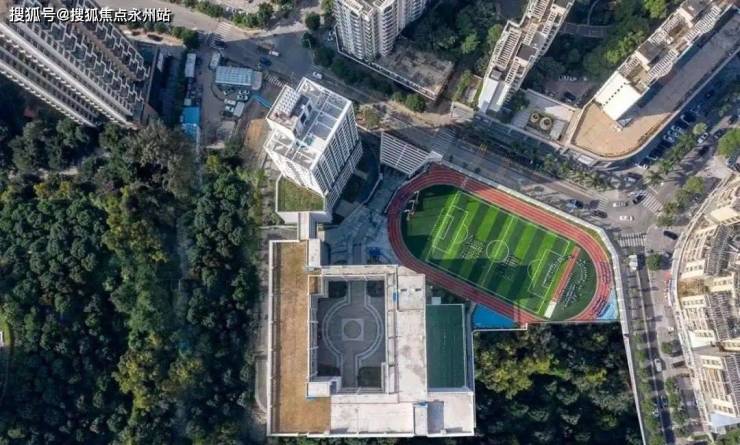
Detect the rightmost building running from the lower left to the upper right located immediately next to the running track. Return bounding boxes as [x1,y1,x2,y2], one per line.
[568,0,740,162]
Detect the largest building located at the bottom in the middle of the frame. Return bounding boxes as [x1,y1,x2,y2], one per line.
[269,238,475,436]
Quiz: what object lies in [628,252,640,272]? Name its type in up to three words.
vehicle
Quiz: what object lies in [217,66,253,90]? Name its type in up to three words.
shed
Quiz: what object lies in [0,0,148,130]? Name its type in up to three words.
building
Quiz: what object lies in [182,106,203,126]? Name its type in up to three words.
shed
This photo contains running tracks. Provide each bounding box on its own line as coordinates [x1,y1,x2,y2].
[386,170,614,321]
